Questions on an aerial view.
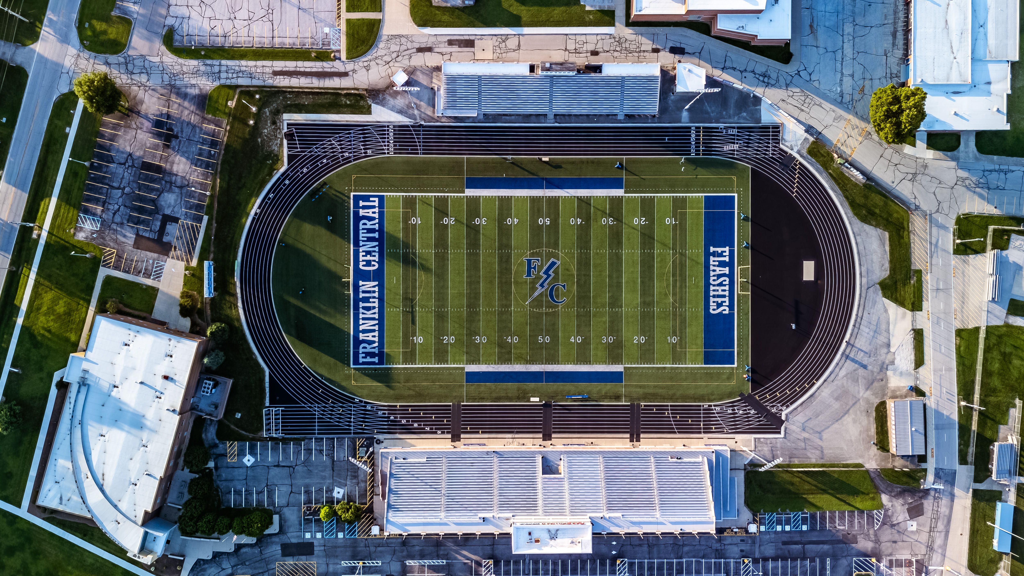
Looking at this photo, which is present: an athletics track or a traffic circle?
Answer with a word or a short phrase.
athletics track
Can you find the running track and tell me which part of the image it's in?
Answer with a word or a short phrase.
center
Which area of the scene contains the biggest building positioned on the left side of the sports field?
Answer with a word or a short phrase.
bottom left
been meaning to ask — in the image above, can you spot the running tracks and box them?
[237,118,860,438]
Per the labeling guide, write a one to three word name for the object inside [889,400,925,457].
building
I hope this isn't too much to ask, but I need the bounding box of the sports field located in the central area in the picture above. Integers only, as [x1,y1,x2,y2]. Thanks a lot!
[271,156,751,403]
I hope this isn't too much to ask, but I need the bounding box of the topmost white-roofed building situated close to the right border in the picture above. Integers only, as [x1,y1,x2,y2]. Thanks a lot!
[895,0,1019,133]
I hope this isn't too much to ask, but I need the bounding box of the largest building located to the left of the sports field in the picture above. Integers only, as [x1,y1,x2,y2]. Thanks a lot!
[37,315,209,565]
